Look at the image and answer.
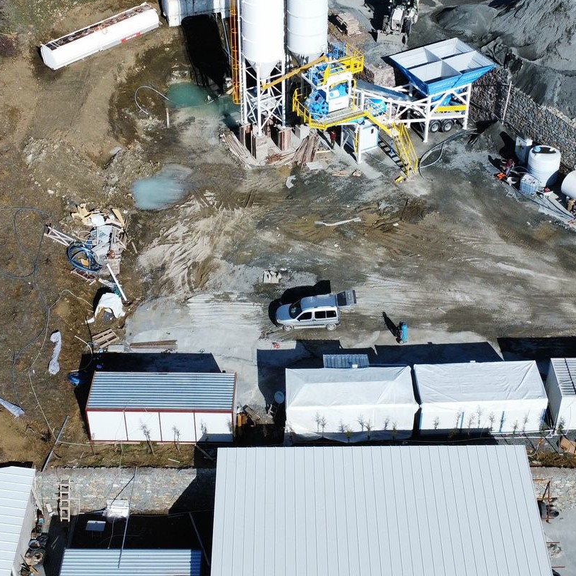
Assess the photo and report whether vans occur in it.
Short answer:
Yes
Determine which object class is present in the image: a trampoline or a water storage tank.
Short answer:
water storage tank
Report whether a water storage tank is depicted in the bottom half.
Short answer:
No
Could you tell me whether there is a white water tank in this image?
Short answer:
Yes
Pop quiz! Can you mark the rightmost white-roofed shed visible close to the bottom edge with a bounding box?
[204,434,549,576]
